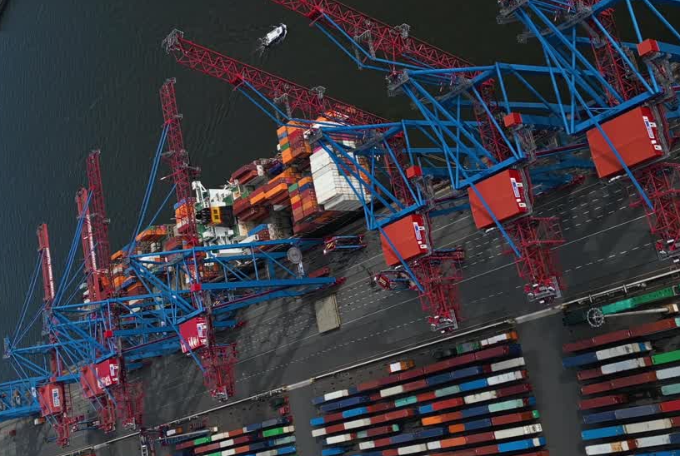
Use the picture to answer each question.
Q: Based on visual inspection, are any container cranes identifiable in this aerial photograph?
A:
Yes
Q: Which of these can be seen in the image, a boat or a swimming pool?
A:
boat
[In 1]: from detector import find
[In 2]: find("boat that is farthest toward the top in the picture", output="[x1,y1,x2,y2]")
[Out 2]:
[258,26,284,51]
